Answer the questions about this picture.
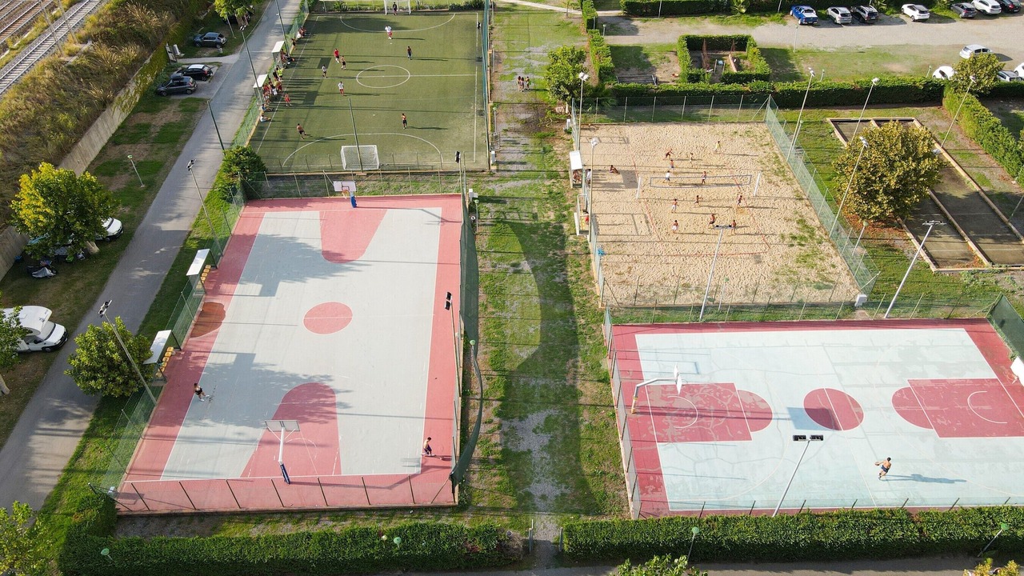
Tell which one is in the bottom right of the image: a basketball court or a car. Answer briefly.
basketball court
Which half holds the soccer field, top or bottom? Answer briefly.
top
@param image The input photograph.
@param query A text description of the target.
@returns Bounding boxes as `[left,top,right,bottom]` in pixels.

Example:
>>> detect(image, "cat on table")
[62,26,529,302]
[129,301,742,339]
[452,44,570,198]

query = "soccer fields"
[238,9,487,173]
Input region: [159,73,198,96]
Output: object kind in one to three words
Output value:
car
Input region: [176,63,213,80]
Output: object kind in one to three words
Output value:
car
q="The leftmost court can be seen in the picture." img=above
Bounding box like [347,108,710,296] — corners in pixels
[114,193,460,513]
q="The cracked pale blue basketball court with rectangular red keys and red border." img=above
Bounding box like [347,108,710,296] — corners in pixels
[607,315,1024,524]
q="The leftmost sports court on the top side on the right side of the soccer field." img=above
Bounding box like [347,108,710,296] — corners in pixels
[575,118,866,308]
